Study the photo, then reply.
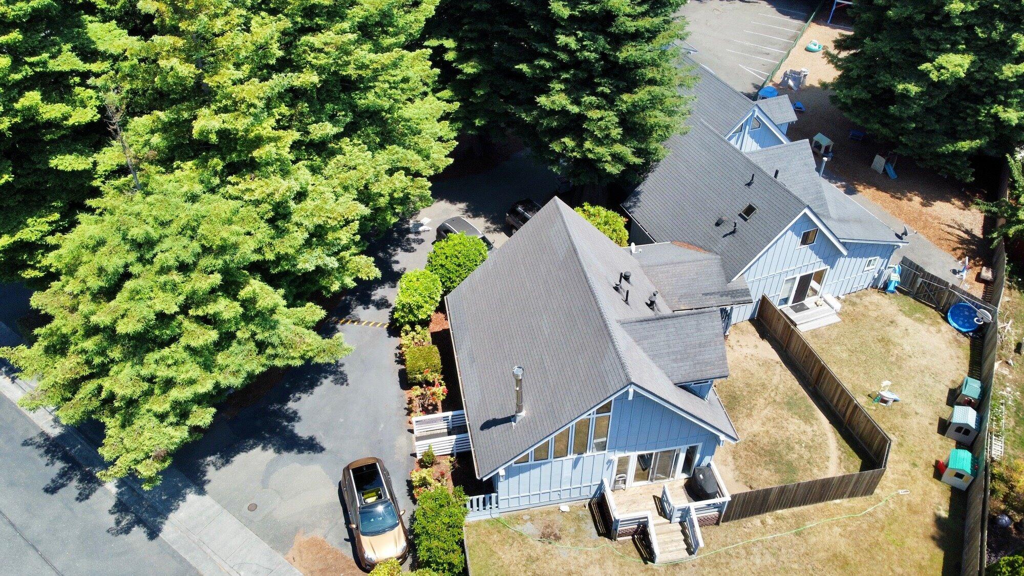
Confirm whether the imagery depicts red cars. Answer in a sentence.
No, there isn't any red car down there.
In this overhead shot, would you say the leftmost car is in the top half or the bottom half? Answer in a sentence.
The leftmost car sits in the bottom half of the picture.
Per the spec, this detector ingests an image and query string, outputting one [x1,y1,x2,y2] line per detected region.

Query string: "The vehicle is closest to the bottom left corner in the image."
[344,460,410,572]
